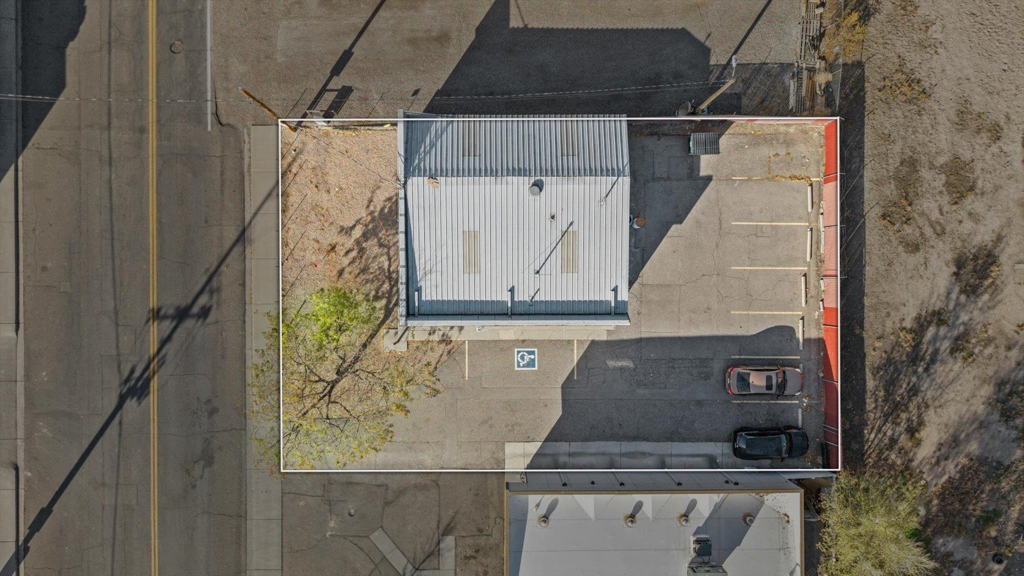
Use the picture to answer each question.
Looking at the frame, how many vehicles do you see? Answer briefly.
2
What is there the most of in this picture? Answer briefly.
paved ground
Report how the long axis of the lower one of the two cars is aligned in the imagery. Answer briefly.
from left to right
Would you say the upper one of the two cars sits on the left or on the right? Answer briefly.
right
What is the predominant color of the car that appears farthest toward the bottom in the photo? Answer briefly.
black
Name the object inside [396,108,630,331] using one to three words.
building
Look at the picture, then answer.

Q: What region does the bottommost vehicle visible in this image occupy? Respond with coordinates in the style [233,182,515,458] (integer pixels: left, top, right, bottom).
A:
[730,423,807,461]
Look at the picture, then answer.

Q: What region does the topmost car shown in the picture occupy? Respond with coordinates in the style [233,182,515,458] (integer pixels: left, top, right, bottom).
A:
[725,363,803,399]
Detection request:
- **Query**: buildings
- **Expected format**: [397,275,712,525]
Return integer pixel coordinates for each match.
[506,463,806,576]
[396,108,630,331]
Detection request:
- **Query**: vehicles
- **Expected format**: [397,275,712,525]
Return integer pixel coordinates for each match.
[730,423,807,461]
[725,363,803,399]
